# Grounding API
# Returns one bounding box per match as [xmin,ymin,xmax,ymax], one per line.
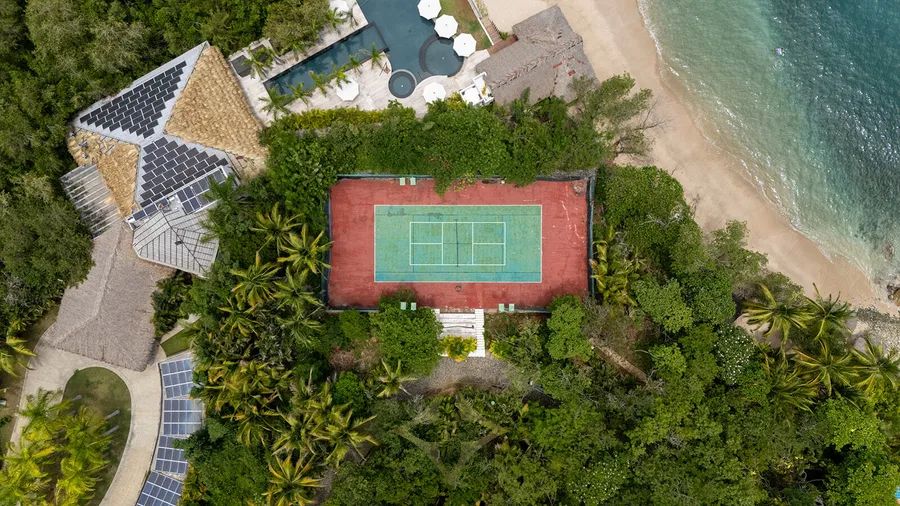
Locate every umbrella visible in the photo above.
[417,0,440,19]
[434,16,458,40]
[330,0,351,16]
[423,82,445,105]
[453,34,476,58]
[337,80,359,103]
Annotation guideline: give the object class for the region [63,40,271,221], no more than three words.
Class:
house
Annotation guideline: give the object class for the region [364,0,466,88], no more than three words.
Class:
swimming pool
